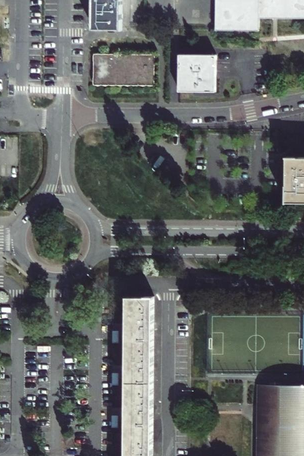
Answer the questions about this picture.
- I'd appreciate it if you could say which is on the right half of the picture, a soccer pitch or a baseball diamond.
soccer pitch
